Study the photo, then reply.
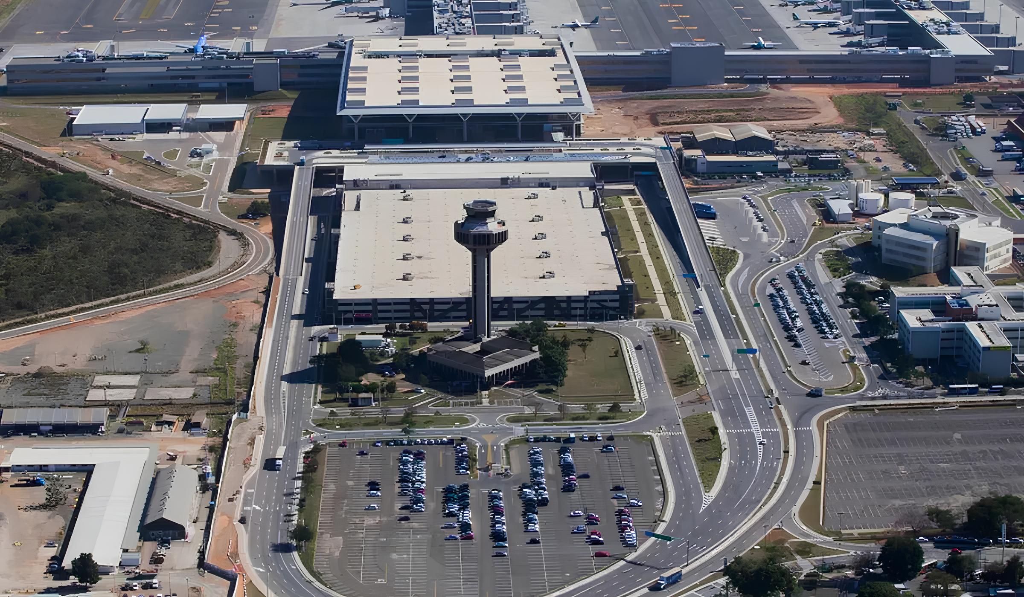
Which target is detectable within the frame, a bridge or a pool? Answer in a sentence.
Visible in the photo is a bridge.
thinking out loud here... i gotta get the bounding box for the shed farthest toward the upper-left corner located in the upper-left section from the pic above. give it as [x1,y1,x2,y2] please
[73,105,150,135]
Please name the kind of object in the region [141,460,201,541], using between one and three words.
hangar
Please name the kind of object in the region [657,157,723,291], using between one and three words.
bridge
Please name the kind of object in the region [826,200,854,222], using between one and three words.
shed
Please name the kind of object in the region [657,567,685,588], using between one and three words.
truck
